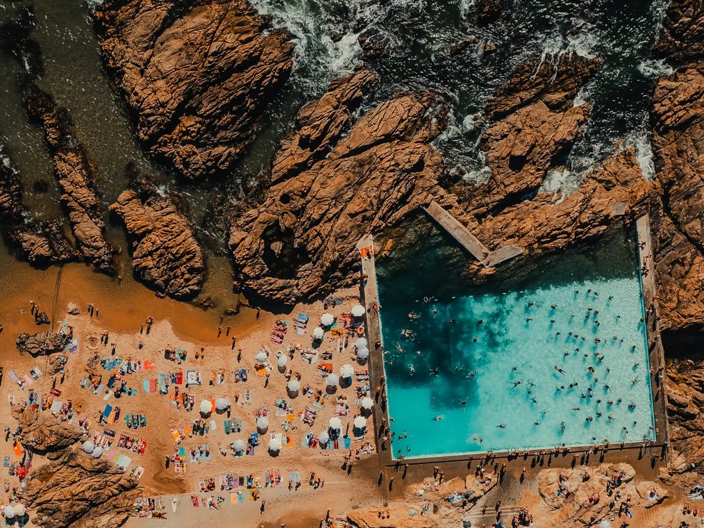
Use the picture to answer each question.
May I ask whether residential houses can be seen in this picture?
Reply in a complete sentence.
No, the picture doesn't show any residential house.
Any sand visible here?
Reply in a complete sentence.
Yes, there is sand in the image.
